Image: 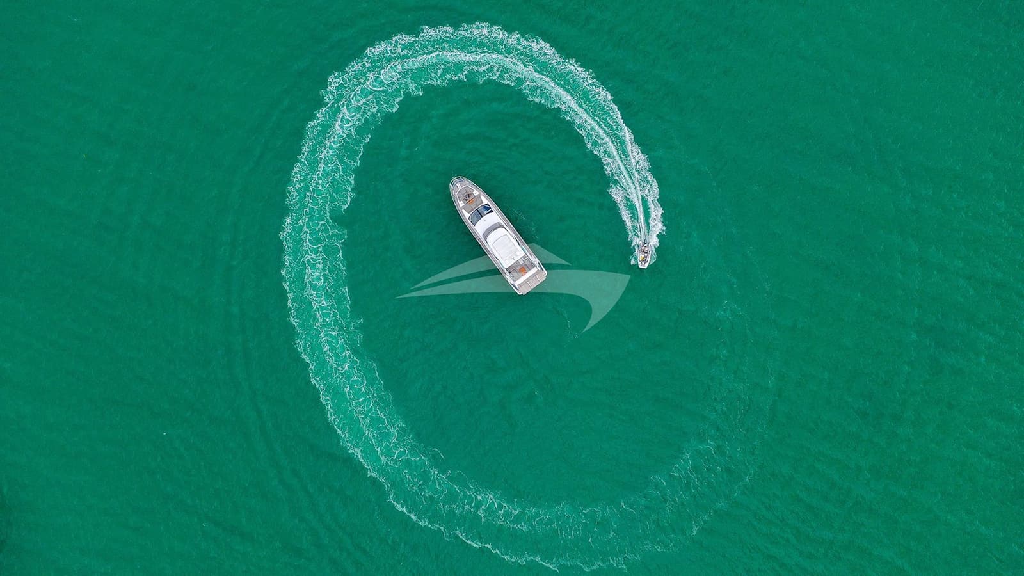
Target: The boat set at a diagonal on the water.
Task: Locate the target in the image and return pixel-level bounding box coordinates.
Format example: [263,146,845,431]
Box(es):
[450,177,546,295]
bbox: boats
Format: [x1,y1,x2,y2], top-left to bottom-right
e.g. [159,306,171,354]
[450,177,546,295]
[638,238,652,268]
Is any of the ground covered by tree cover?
No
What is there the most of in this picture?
water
